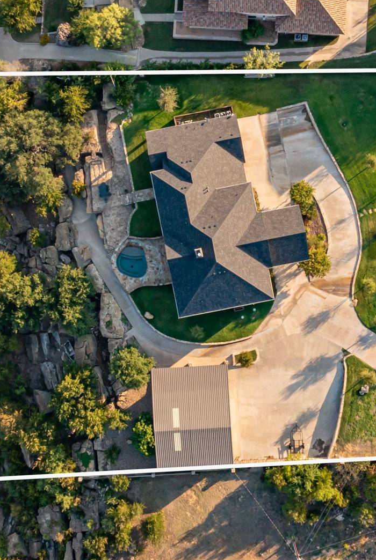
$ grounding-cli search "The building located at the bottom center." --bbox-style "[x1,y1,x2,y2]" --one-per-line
[150,356,235,477]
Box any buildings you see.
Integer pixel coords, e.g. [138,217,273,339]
[145,115,310,318]
[182,0,349,39]
[150,356,235,477]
